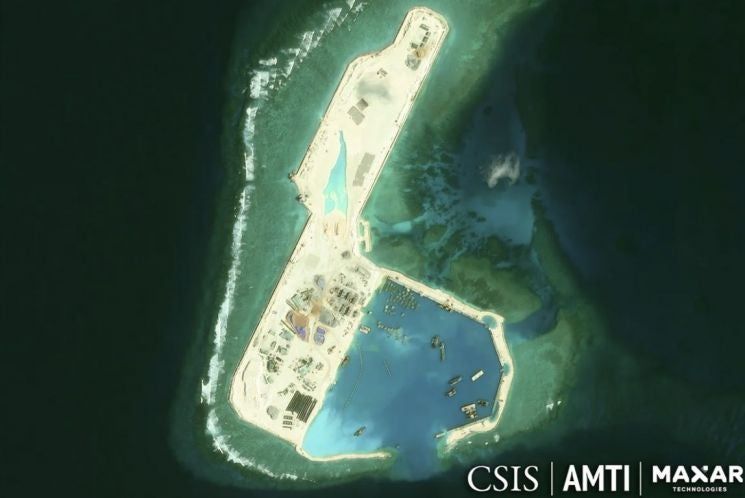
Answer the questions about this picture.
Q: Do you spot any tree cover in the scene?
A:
No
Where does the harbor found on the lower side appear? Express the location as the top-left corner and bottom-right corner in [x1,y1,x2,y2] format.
[296,270,514,462]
